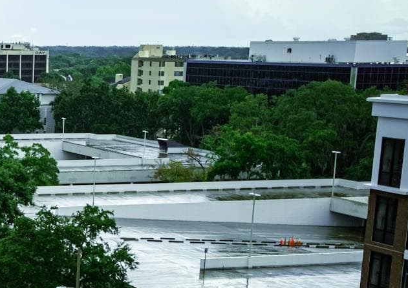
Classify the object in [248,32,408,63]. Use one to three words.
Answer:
house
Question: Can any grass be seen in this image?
No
